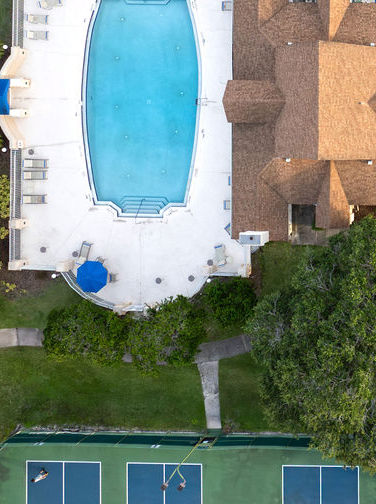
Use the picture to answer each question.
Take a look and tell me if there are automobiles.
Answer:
No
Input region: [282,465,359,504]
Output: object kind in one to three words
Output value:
sports court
